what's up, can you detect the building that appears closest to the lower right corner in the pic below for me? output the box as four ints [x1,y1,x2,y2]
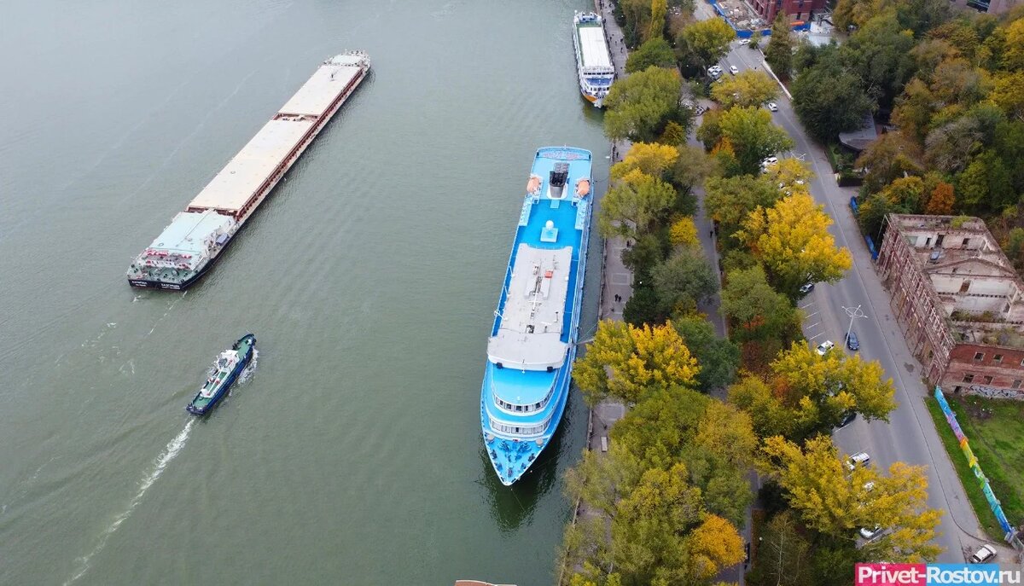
[874,213,1024,396]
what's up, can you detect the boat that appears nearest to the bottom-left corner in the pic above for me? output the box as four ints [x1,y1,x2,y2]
[184,328,257,417]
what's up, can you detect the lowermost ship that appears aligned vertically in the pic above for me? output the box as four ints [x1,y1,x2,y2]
[480,143,592,495]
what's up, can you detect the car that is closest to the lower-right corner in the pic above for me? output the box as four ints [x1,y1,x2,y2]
[974,544,998,562]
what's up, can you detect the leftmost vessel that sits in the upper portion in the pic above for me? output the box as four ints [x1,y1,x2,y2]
[128,45,372,297]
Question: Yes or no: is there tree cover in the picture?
Yes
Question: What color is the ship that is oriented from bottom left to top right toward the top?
white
